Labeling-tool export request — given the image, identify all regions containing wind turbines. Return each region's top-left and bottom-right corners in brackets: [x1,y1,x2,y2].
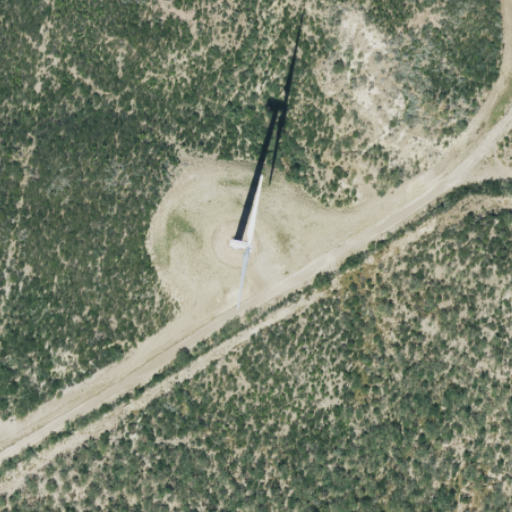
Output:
[228,177,262,310]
